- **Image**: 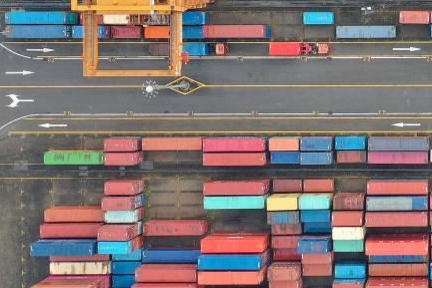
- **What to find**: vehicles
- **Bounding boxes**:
[209,42,229,57]
[301,41,331,56]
